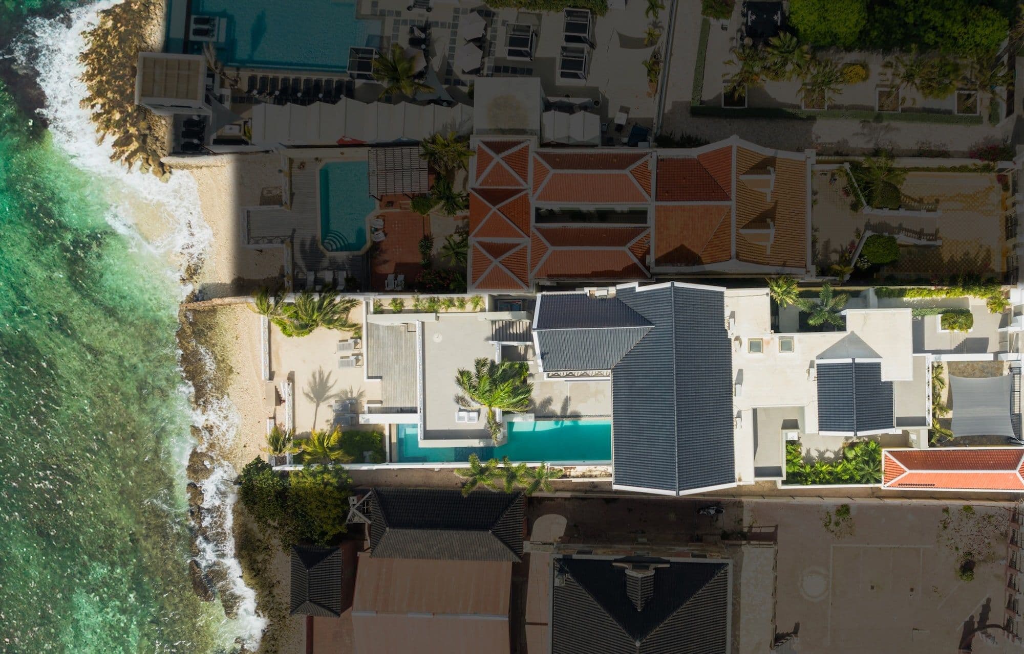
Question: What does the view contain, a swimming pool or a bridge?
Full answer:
This aerial view contains a swimming pool.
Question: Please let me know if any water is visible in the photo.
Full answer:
Yes, some water is visible.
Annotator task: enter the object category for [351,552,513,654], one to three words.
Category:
shed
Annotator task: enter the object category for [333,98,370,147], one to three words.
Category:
tent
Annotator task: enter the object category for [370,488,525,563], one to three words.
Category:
house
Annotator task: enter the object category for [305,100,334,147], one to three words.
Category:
tent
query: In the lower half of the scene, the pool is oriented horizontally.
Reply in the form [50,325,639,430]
[398,416,613,463]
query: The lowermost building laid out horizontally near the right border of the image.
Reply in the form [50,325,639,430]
[879,448,1024,492]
